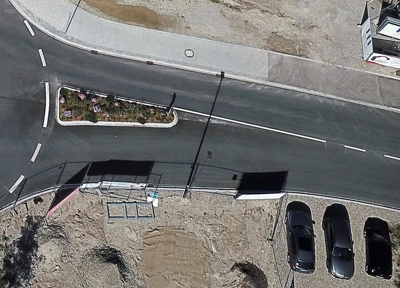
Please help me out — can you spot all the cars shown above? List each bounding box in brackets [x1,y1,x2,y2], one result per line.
[361,215,400,285]
[282,206,329,279]
[323,206,365,283]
